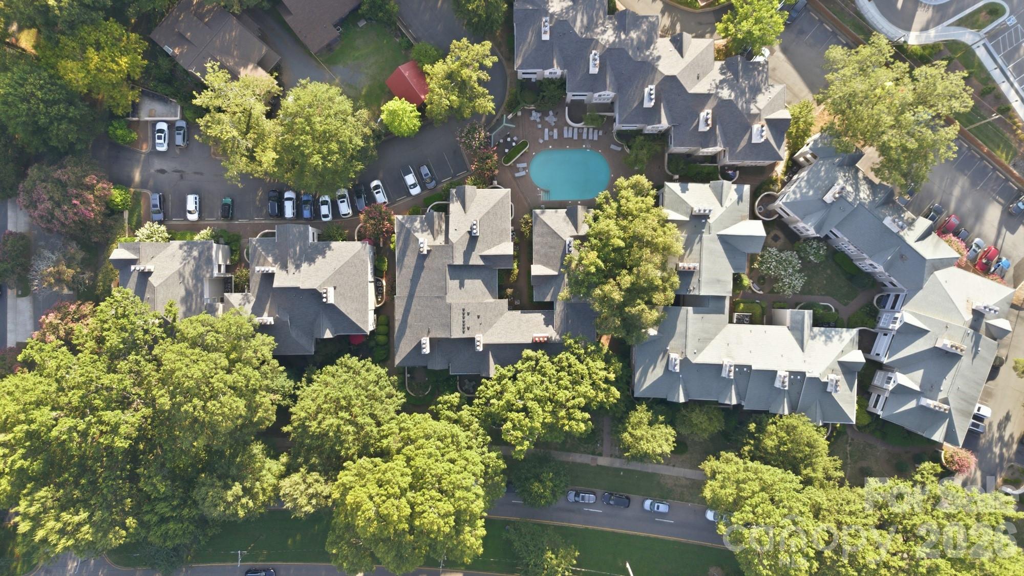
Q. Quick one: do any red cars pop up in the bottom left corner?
No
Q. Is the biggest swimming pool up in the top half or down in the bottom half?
top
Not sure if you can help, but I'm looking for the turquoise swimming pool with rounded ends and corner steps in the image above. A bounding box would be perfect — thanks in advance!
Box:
[529,148,610,200]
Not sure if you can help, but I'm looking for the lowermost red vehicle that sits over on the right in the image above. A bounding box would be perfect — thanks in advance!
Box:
[973,244,1001,273]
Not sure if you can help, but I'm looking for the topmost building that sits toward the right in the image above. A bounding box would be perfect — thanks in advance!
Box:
[514,0,794,167]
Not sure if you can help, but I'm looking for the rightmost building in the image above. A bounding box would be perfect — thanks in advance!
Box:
[768,136,1018,448]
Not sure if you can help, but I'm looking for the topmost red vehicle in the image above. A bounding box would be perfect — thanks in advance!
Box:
[936,212,961,240]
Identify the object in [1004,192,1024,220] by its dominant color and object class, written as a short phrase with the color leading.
gray car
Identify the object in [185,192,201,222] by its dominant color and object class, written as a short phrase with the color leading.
white car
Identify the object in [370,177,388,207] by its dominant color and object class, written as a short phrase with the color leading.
white car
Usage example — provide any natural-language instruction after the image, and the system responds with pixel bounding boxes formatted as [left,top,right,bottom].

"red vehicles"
[973,244,1001,273]
[936,212,961,240]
